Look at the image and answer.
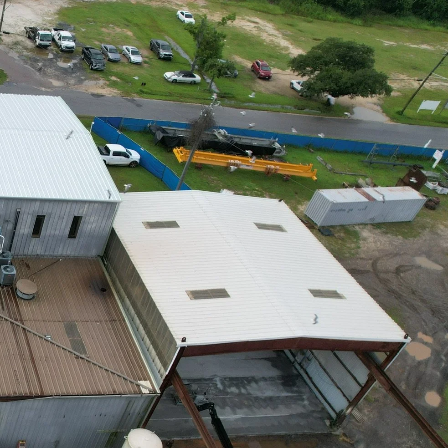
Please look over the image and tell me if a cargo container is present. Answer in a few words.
Yes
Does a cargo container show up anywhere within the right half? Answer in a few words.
Yes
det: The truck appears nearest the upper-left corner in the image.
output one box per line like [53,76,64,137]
[28,25,55,47]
